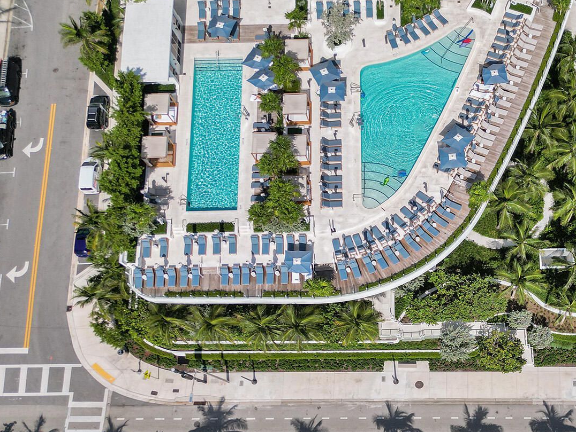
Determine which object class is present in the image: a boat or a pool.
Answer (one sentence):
Looking from above, you can make out a pool.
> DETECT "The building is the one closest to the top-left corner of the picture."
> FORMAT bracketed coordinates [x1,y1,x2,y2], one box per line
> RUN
[120,0,182,98]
